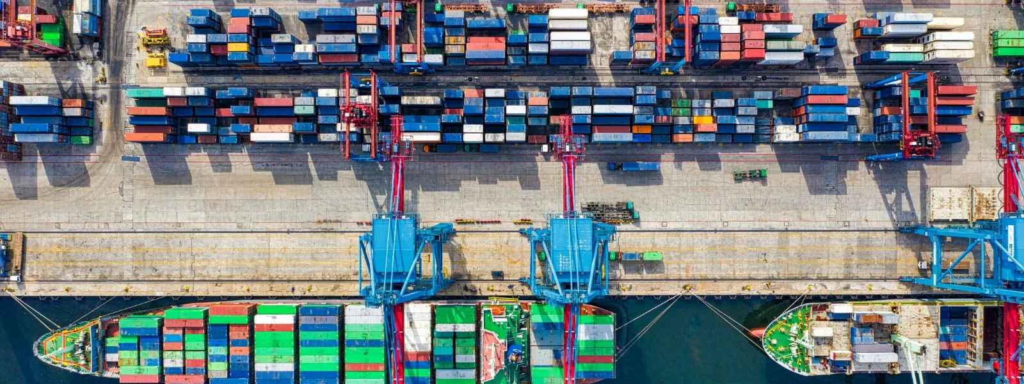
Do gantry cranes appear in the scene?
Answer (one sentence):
Yes, there's a gantry crane down there.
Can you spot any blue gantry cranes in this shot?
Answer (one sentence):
Yes, a blue gantry crane is visible in the scene.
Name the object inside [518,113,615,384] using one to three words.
container crane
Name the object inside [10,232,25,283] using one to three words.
vehicle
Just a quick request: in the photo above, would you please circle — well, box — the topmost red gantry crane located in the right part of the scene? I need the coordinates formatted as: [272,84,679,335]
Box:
[637,0,693,76]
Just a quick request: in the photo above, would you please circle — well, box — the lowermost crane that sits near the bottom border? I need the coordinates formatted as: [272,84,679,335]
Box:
[890,332,928,384]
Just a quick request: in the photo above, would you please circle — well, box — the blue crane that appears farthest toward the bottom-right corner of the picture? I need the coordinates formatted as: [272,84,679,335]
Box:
[898,112,1024,384]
